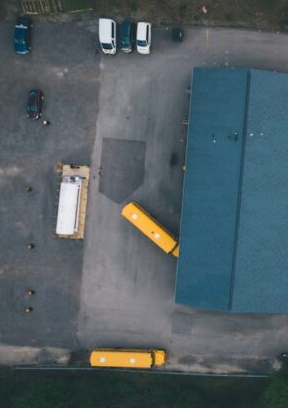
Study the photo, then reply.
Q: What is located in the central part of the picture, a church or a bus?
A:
bus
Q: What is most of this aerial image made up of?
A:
paved ground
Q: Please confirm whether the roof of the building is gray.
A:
No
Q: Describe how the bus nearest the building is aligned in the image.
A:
at an angle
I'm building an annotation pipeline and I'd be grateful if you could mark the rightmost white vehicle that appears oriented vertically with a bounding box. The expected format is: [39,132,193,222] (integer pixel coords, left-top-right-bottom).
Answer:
[136,22,153,55]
